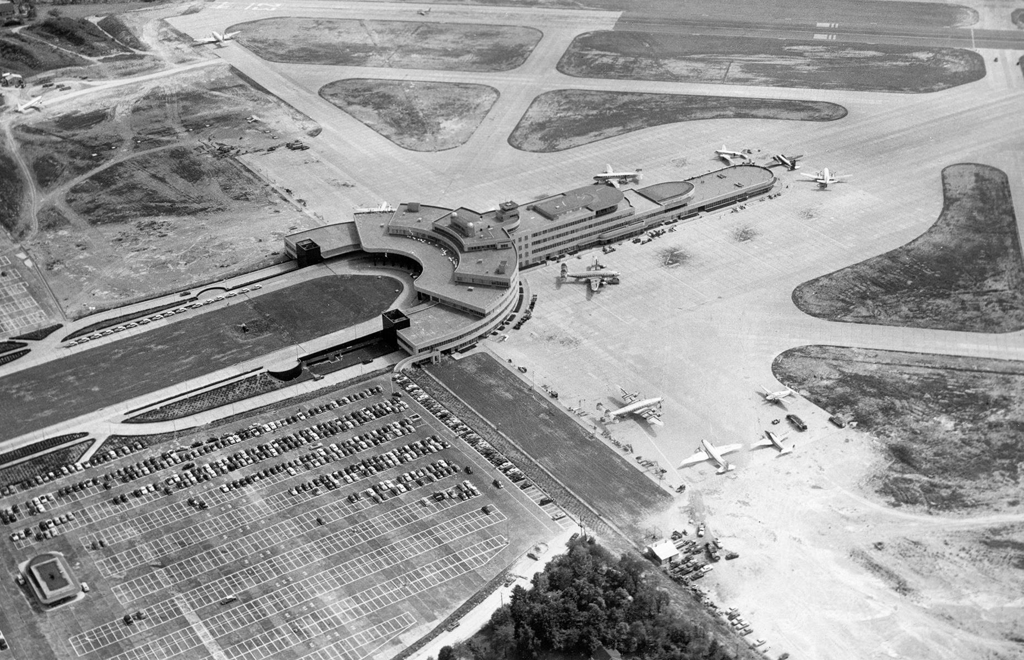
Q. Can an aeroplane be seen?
Yes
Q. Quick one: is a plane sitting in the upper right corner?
Yes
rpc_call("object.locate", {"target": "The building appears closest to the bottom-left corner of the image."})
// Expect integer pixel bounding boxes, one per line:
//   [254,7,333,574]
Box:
[18,550,86,617]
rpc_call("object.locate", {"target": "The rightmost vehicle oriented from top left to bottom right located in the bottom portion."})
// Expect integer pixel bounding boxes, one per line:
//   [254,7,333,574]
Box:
[830,413,846,428]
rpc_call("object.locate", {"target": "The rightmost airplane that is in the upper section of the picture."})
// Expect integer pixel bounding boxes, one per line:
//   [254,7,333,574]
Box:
[798,165,850,181]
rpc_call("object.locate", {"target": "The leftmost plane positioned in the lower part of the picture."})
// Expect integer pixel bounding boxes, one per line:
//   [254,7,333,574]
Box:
[604,382,674,425]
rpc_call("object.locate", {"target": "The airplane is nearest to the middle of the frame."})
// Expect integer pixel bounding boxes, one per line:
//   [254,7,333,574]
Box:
[563,255,623,289]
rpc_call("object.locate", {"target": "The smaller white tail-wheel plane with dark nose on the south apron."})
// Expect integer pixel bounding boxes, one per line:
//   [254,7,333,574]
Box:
[746,429,798,456]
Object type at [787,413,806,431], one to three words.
vehicle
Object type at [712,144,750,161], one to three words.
airplane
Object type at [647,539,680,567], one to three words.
shed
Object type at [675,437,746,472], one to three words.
airplane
